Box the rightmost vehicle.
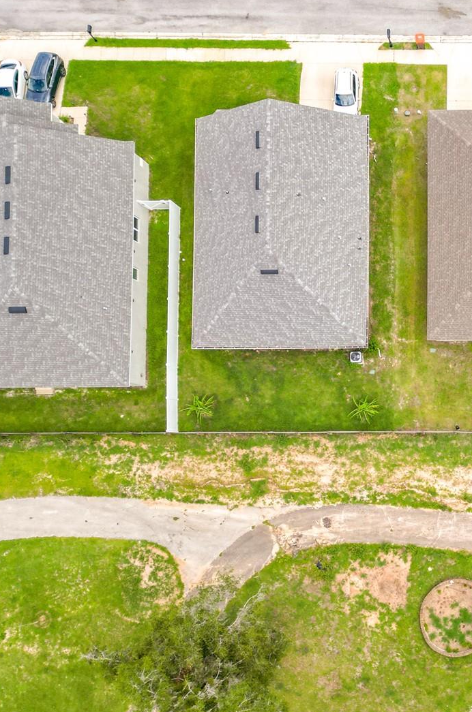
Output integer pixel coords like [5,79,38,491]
[333,67,363,115]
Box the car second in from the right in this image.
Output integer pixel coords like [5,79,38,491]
[23,52,67,112]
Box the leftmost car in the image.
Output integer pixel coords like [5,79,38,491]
[0,60,29,100]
